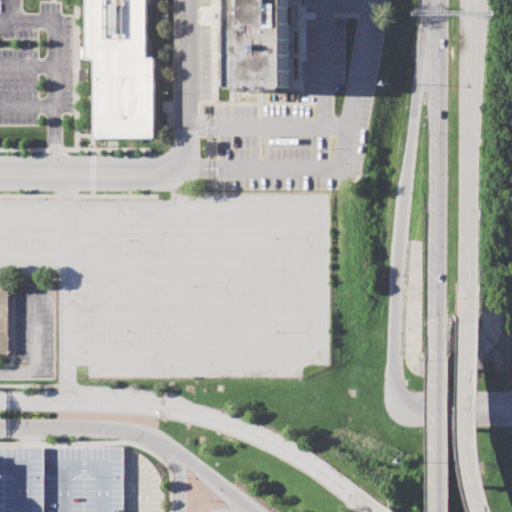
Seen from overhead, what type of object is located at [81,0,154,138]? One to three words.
building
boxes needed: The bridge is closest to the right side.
[454,320,491,512]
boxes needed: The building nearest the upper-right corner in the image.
[222,0,315,91]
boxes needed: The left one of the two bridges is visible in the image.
[426,359,448,512]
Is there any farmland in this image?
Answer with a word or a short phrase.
No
